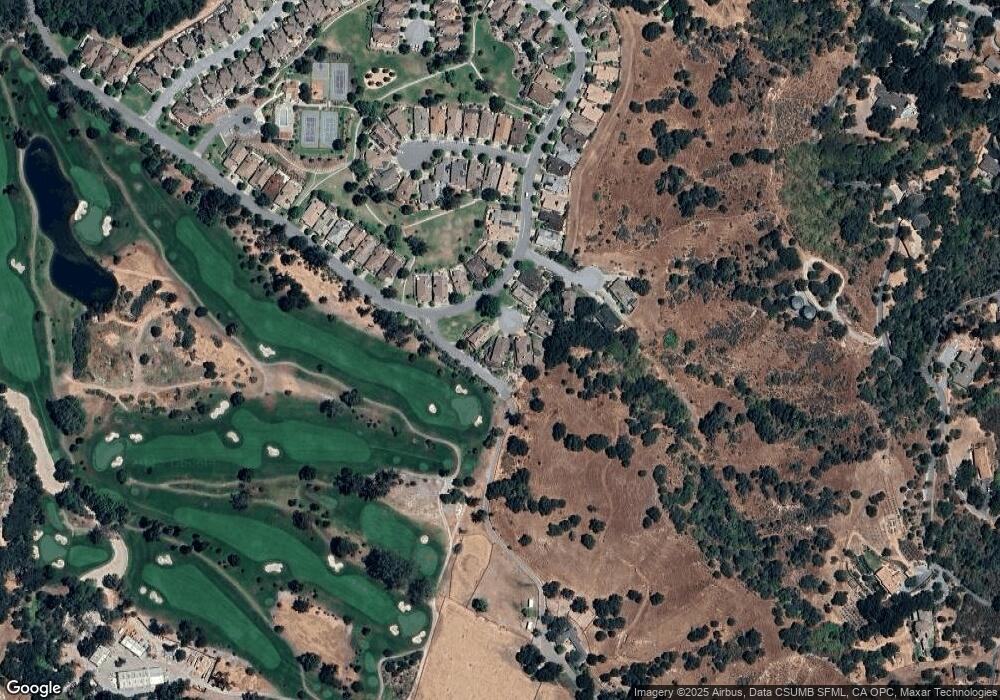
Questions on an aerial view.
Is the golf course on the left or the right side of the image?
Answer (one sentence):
The golf course is on the left side of the image.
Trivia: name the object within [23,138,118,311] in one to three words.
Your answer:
pond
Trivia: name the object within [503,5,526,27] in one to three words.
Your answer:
house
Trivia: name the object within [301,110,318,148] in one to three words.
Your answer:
tennis court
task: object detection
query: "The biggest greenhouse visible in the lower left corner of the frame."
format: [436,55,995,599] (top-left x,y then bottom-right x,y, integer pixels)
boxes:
[116,668,161,689]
